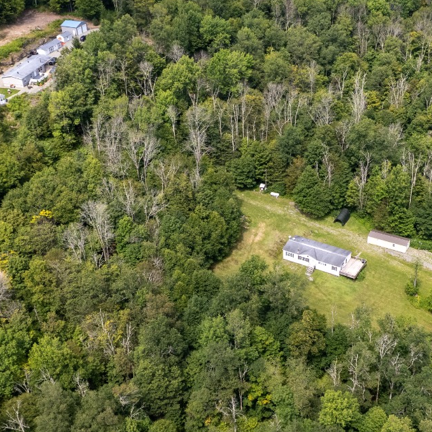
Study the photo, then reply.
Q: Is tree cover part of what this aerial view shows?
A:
Yes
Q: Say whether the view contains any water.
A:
No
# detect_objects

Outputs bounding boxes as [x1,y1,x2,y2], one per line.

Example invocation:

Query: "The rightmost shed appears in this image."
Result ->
[367,229,412,252]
